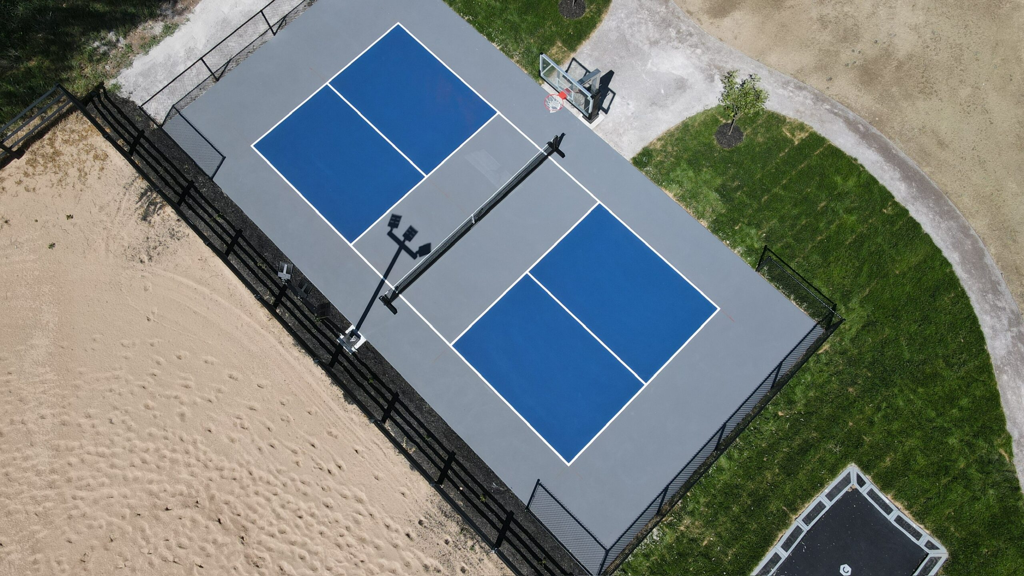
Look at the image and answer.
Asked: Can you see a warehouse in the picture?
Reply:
No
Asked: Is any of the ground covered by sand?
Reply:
Yes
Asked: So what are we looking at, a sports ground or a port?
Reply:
sports ground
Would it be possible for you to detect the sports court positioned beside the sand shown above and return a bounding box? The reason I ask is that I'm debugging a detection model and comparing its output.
[161,0,821,576]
